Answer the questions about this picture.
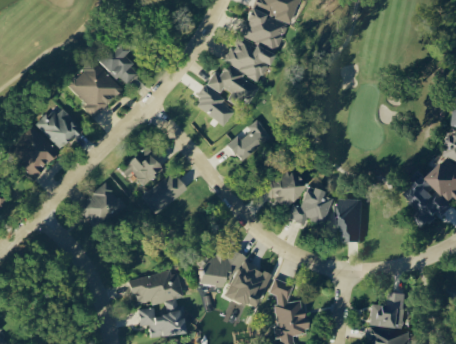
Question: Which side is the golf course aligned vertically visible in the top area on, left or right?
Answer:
right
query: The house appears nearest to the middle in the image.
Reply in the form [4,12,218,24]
[228,124,265,160]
